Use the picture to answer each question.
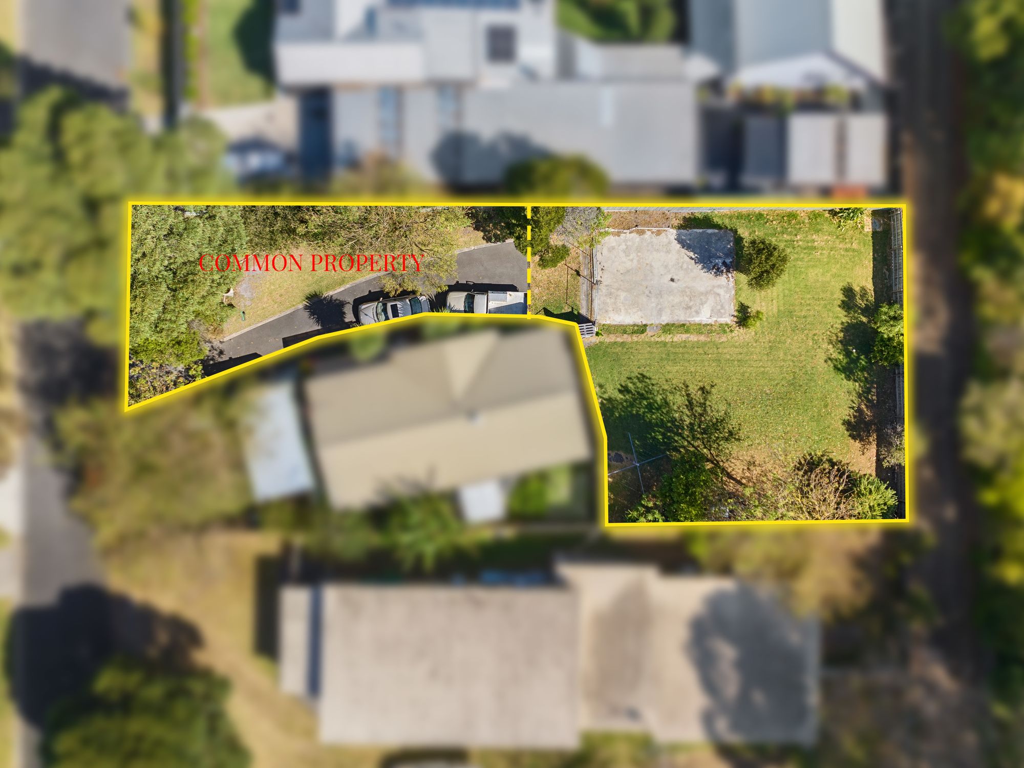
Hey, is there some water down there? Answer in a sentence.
No, the picture contains no water.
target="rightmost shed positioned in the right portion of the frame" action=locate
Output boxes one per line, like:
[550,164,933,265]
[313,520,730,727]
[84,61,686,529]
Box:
[830,114,889,192]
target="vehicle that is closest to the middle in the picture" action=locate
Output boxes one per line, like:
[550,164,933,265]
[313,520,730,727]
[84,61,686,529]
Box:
[447,287,527,322]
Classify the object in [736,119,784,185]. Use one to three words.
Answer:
shed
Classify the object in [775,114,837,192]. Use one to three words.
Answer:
shed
